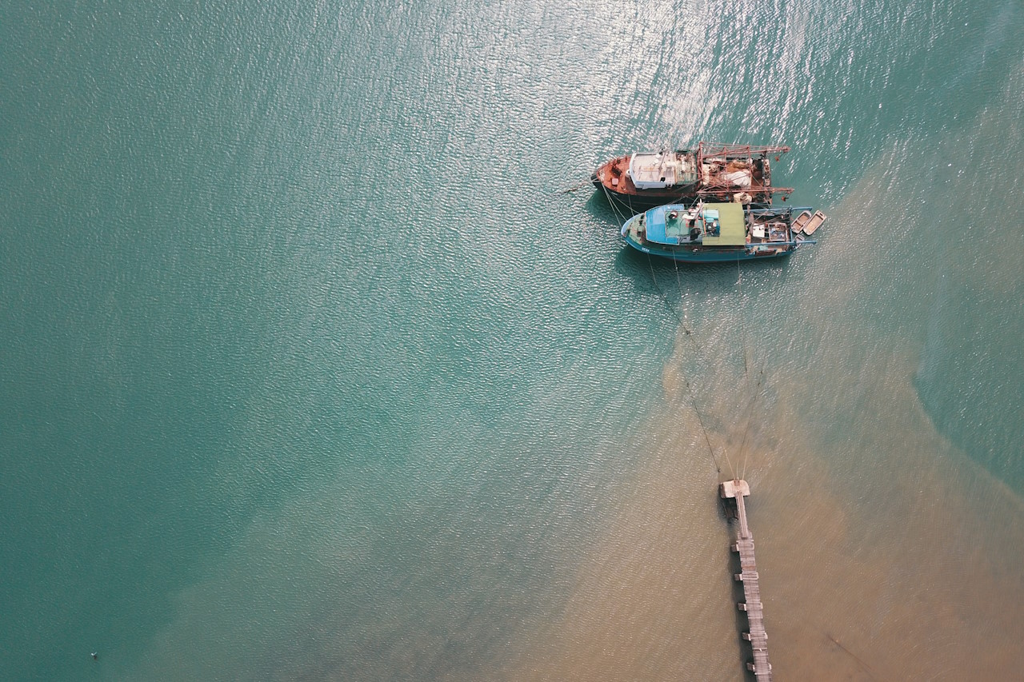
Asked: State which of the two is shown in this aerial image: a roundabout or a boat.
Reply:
boat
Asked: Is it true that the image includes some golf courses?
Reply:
No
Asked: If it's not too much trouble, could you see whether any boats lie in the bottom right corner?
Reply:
No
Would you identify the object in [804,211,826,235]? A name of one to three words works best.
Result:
boat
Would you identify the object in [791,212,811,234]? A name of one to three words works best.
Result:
boat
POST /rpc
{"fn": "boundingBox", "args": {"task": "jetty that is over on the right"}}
[731,533,774,682]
